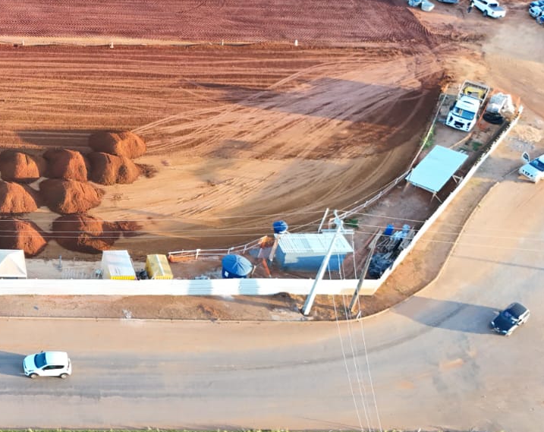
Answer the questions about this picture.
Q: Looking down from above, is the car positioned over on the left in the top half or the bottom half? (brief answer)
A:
bottom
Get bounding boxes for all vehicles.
[531,5,544,20]
[467,0,513,20]
[450,69,488,135]
[521,154,544,185]
[23,355,71,381]
[491,304,535,338]
[530,0,544,8]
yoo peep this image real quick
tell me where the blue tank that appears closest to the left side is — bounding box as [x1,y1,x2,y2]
[222,253,254,280]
